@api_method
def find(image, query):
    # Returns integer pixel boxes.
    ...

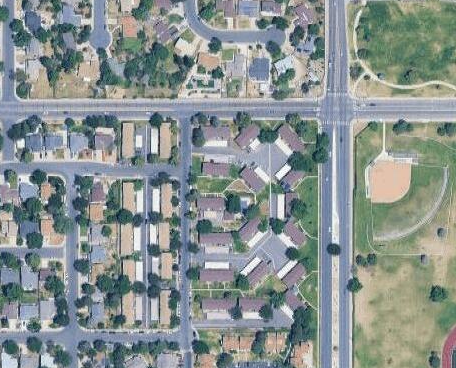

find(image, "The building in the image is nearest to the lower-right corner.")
[290,343,313,368]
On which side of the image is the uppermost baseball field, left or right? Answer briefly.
right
